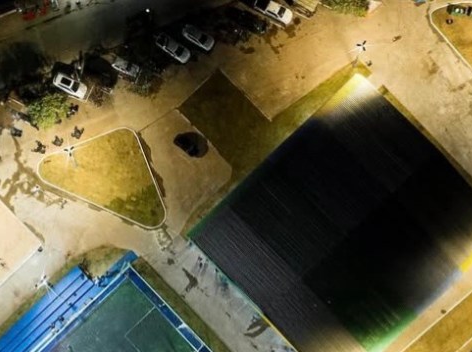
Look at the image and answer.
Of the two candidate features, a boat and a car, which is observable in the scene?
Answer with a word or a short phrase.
car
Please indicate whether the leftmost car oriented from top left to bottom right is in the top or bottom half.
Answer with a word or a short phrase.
top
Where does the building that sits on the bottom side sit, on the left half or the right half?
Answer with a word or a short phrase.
right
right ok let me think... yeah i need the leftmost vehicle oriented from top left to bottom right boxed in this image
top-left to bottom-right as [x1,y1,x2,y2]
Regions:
[51,69,88,99]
